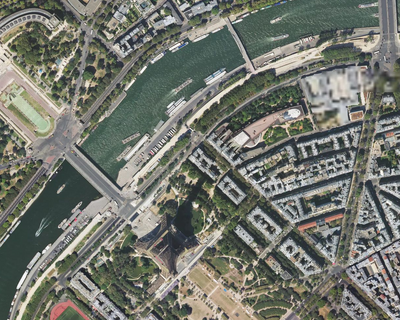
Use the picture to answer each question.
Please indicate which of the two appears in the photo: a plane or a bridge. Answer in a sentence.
Looking from above, you can make out a bridge.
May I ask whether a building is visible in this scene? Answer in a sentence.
Yes, the picture does show a building.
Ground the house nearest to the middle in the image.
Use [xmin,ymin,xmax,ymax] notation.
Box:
[188,147,224,181]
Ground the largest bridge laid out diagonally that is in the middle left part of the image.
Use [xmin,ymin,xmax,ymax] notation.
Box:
[63,147,128,204]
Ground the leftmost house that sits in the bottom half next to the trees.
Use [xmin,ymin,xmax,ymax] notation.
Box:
[75,270,99,302]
